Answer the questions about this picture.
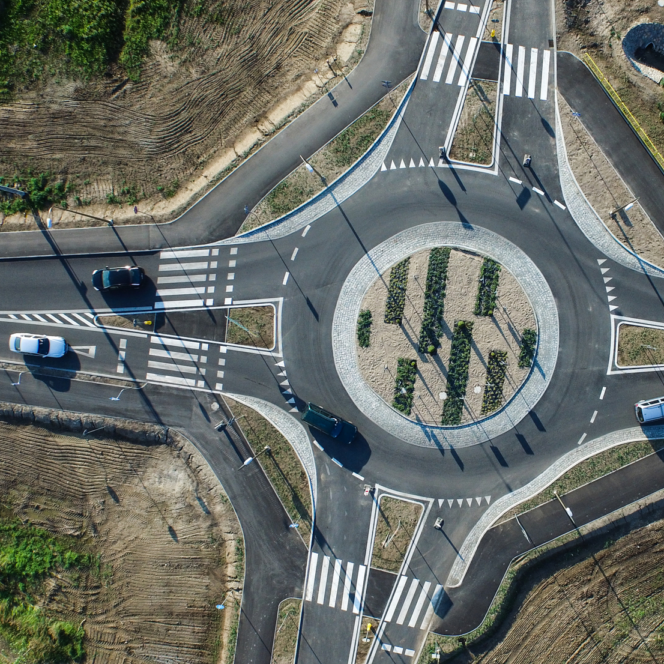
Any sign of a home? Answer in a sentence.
No, no home can be seen from above.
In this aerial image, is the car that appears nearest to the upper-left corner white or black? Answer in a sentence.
From above, the car that appears nearest to the upper-left corner appears black.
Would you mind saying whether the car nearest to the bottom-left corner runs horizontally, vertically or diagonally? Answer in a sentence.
What the image shows is the car nearest to the bottom-left corner lying horizontally.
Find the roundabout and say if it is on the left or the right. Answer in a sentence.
The roundabout appears in the right half of the scene.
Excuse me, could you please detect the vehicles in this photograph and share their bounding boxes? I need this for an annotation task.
[7,331,71,360]
[633,396,664,423]
[90,265,146,293]
[301,401,363,443]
